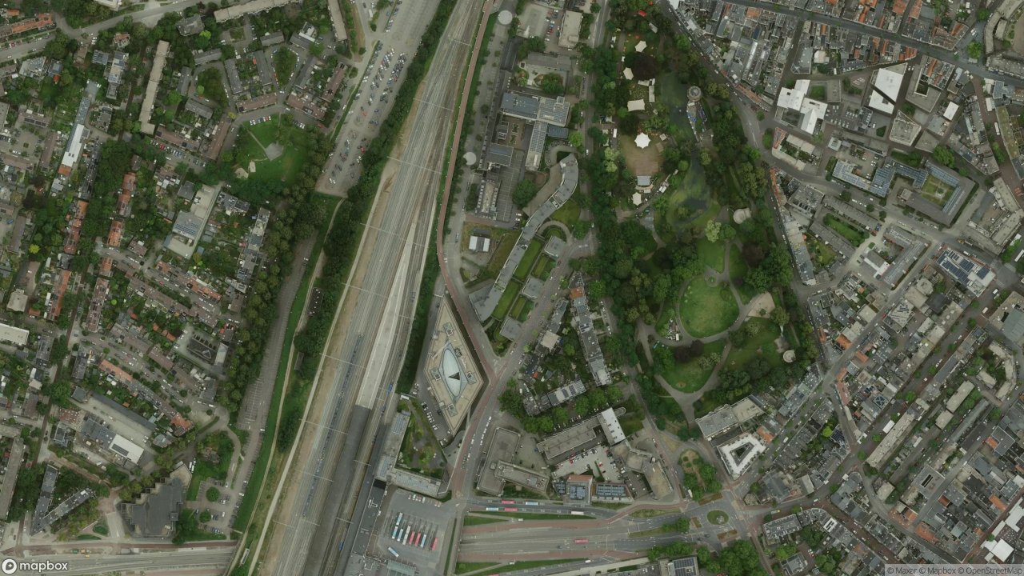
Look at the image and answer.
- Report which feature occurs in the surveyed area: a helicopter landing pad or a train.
train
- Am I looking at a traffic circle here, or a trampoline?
traffic circle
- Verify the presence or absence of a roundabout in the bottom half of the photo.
Yes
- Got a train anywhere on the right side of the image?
No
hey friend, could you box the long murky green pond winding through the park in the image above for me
[664,75,709,221]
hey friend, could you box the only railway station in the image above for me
[344,414,442,576]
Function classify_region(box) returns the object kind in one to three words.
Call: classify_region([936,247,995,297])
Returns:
building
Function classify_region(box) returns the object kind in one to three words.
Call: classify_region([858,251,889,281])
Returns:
building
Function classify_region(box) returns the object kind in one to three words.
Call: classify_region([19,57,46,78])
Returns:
house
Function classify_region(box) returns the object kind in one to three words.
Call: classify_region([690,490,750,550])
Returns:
roundabout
